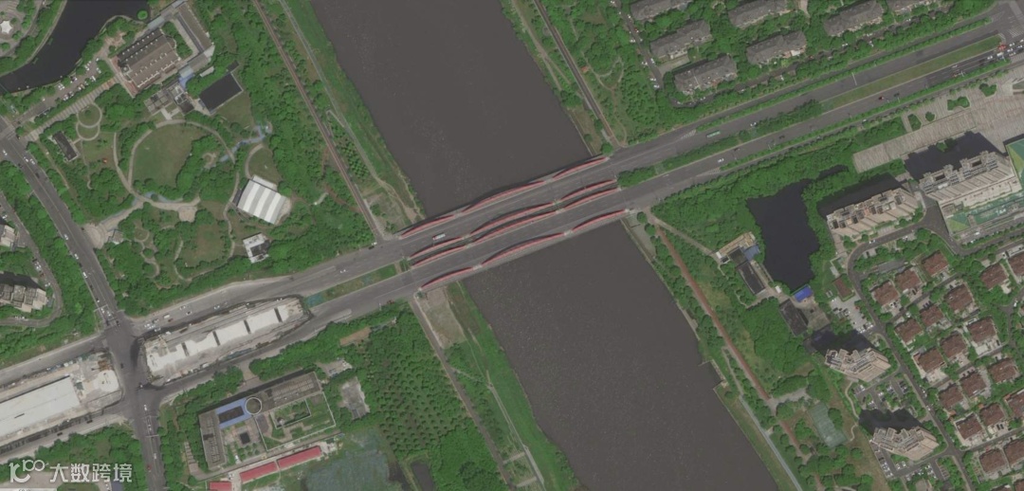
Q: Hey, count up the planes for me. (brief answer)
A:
0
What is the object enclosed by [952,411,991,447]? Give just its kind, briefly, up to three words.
house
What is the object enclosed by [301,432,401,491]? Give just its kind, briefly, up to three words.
pond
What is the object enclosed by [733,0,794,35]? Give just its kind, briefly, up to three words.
building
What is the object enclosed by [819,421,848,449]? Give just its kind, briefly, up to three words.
tennis court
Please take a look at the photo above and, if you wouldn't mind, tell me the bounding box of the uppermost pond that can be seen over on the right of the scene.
[748,179,818,294]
